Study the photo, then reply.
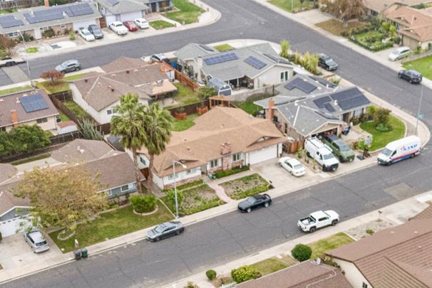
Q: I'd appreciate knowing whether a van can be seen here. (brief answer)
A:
Yes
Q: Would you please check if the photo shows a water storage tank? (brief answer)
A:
No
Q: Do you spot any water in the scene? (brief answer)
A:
No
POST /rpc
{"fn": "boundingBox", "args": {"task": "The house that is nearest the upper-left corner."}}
[0,0,104,46]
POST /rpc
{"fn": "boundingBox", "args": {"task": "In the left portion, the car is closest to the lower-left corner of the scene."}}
[23,230,51,253]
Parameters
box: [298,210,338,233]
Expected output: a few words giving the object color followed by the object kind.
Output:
white truck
